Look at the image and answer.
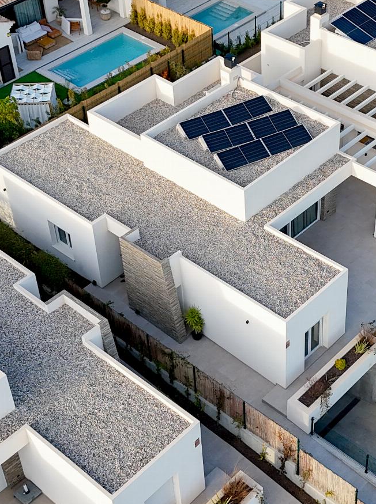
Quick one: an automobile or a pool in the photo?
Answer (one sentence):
The one in the frame is a pool.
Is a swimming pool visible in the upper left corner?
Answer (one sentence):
Yes, I can see a swimming pool in the upper left corner.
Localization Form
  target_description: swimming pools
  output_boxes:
[183,0,265,41]
[33,26,167,91]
